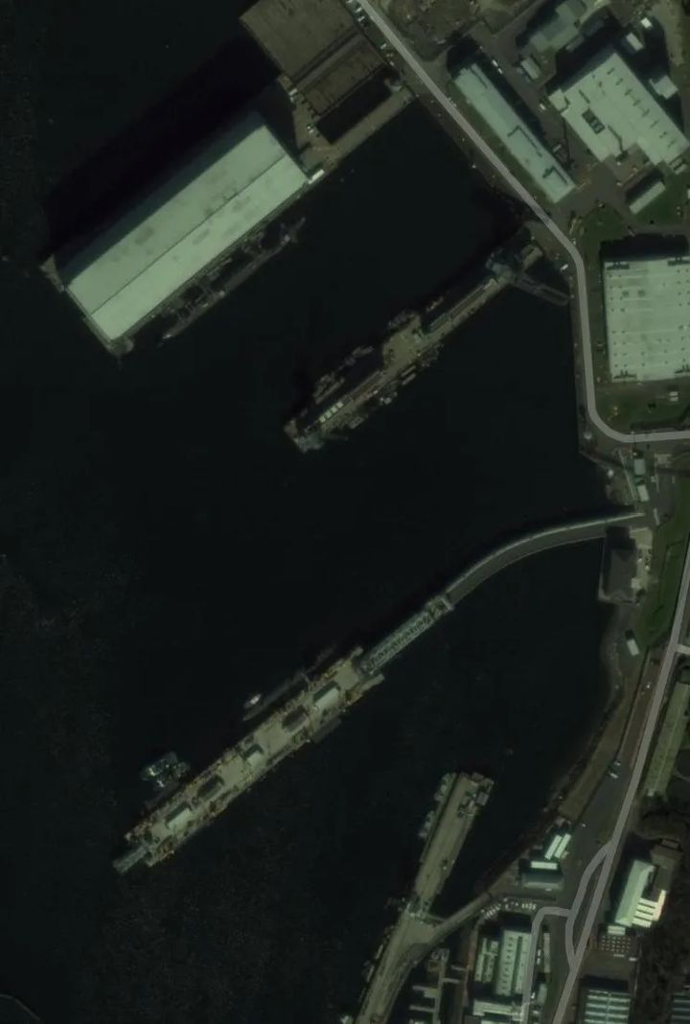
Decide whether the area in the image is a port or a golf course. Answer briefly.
port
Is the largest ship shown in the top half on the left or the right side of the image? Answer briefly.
left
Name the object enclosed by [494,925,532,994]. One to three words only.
building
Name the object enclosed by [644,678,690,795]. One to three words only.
house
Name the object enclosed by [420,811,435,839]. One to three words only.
boat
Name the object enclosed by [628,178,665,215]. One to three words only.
shed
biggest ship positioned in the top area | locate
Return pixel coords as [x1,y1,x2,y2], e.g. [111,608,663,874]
[165,215,306,336]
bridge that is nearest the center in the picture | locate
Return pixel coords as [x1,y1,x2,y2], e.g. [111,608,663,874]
[360,609,439,677]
